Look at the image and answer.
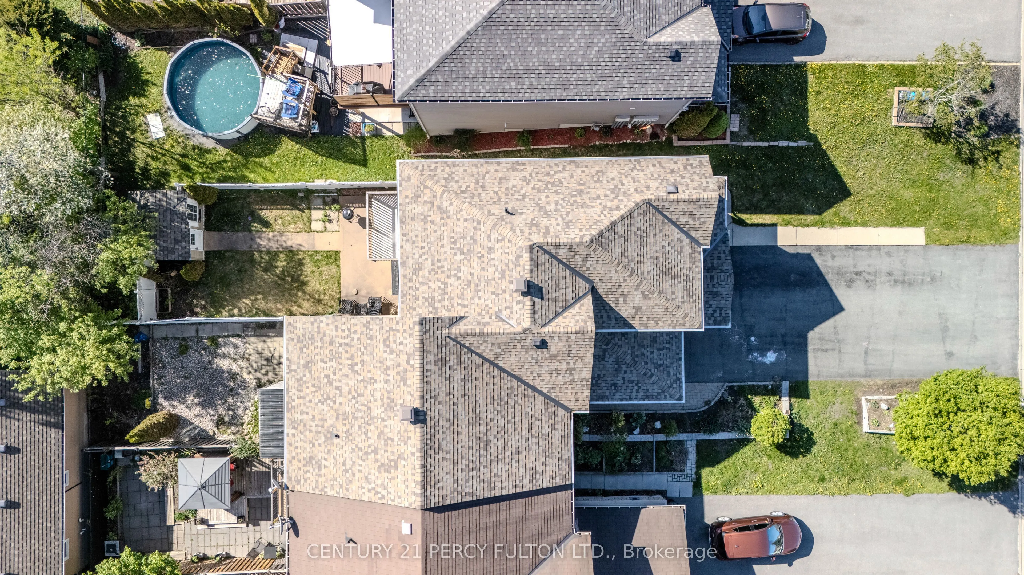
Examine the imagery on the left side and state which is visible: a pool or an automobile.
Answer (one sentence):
It is a pool that can be seen on the left side.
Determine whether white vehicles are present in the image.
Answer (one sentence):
No, there is no white vehicle in the image.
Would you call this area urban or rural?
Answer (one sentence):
The area is urban.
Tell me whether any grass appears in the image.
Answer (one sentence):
Yes, there is grass in the image.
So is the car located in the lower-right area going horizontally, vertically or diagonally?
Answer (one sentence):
Seen from above, the car located in the lower-right area lies horizontally.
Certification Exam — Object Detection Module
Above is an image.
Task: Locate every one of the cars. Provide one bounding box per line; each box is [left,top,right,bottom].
[707,511,800,560]
[733,0,814,43]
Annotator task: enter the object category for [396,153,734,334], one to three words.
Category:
house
